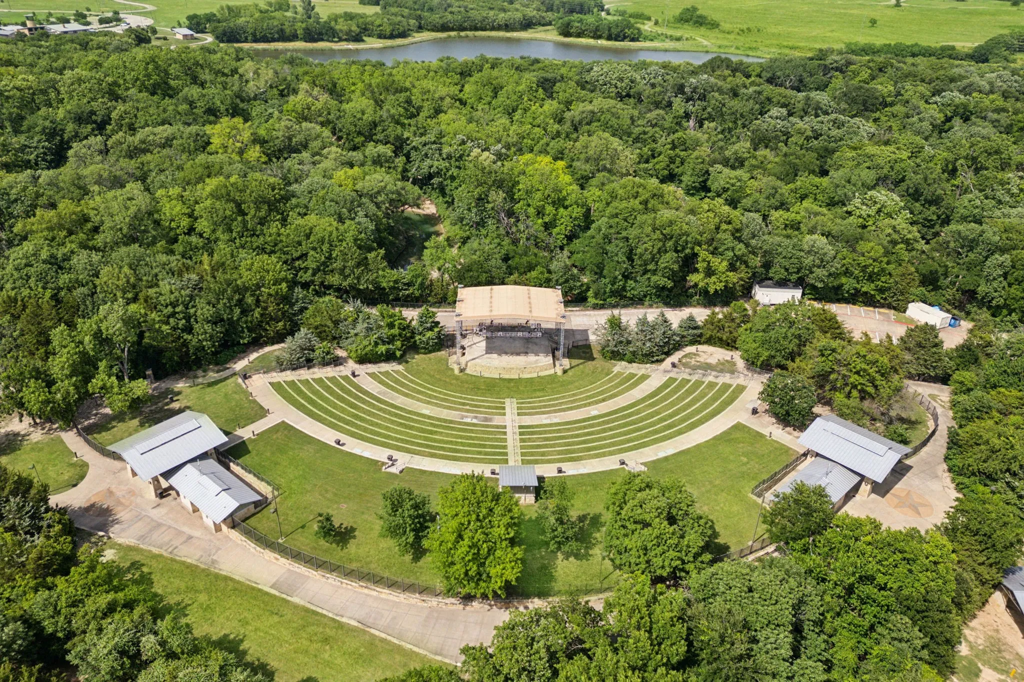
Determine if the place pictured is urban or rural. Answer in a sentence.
It looks rural.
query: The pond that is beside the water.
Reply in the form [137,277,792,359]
[173,36,771,83]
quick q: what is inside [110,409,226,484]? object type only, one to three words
building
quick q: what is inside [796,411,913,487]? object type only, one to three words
building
